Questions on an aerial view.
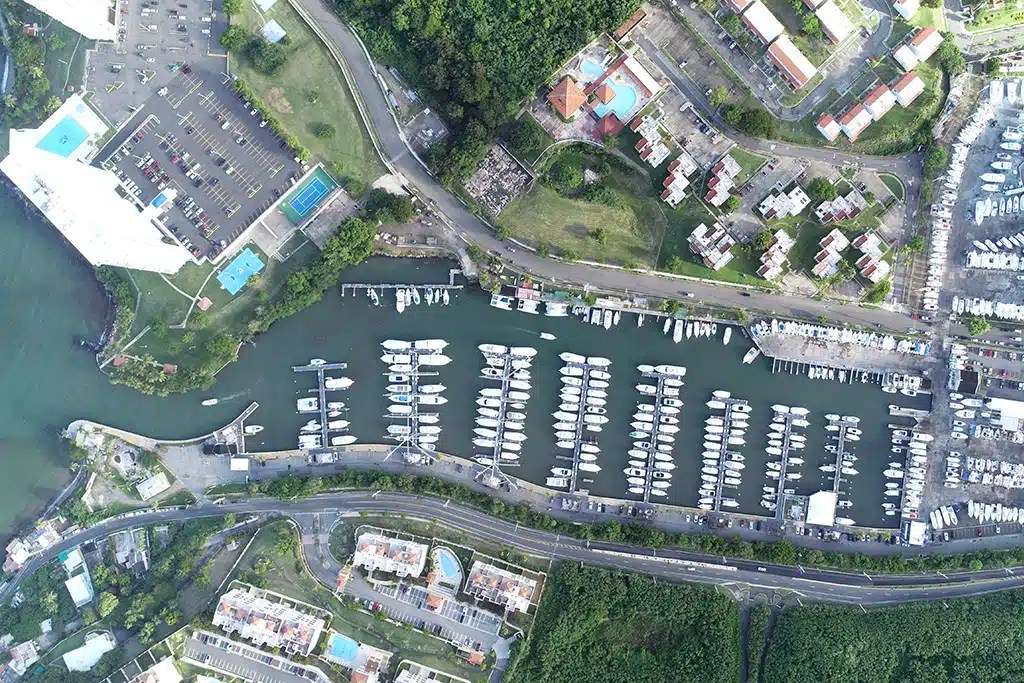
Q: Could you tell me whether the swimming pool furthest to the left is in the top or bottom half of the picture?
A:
top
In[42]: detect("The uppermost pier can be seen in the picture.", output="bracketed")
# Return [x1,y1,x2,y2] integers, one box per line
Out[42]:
[342,269,463,296]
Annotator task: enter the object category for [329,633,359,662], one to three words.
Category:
swimming pool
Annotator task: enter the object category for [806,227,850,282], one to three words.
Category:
building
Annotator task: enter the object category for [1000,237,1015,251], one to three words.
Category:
boat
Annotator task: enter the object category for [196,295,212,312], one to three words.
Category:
gazebo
